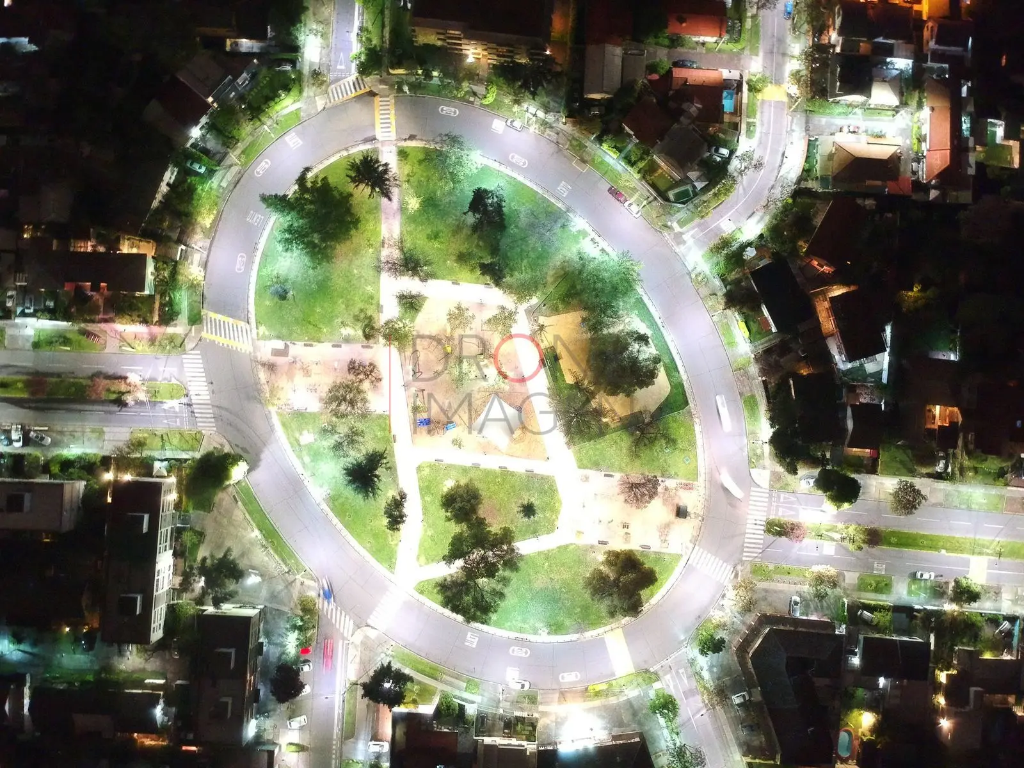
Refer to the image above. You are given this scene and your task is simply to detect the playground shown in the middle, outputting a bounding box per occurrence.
[401,299,549,460]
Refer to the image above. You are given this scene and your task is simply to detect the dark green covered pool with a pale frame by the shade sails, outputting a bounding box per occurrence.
[670,184,694,201]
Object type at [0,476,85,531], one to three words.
building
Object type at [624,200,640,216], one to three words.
car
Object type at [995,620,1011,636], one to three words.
car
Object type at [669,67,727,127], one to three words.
house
